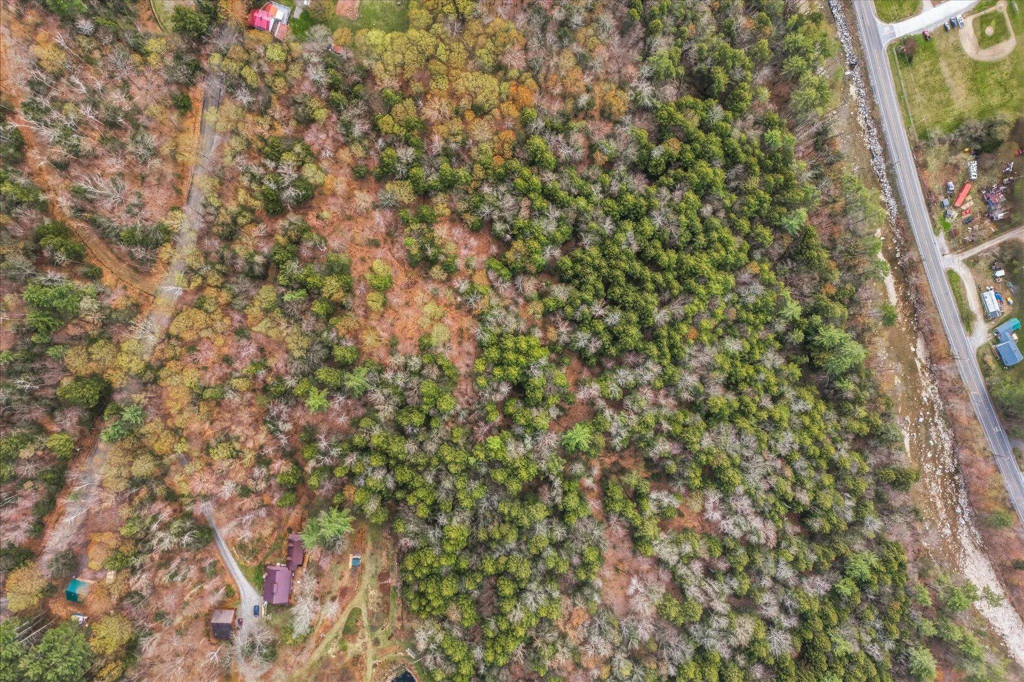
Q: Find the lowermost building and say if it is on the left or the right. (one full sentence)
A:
The lowermost building sits on the left side.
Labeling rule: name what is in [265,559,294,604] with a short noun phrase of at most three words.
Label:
house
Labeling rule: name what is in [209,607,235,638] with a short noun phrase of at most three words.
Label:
building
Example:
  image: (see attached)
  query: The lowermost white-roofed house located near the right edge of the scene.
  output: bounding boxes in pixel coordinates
[977,289,1001,319]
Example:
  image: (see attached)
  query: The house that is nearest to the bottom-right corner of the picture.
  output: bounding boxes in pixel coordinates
[992,316,1023,366]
